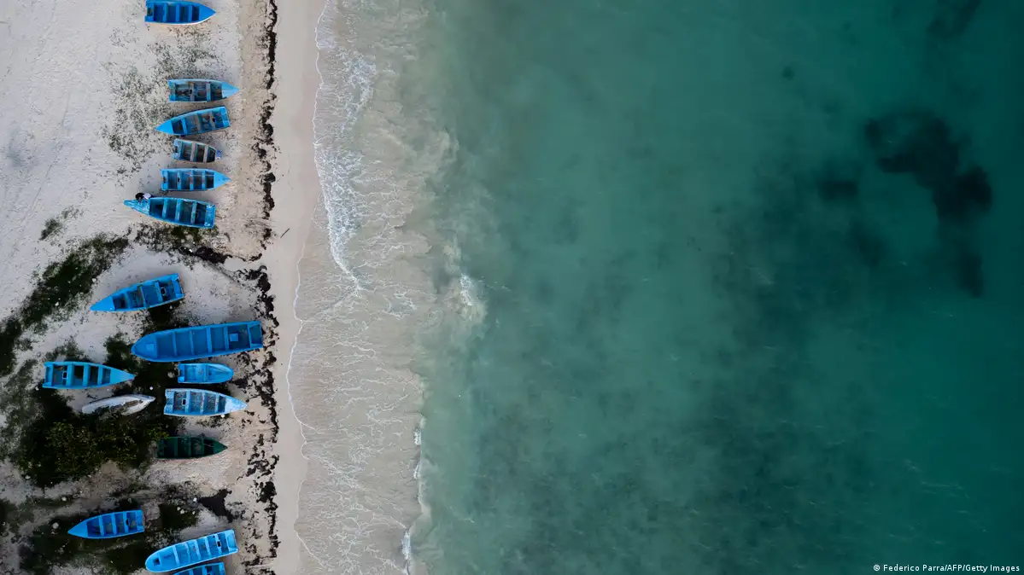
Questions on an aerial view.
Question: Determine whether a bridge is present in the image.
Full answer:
No, there isn't any bridge down there.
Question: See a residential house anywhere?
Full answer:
No, the picture doesn't show any residential house.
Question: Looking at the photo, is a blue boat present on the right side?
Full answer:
No, I see no blue boat on the right side.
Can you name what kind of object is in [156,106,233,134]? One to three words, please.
boat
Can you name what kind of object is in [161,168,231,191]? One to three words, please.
boat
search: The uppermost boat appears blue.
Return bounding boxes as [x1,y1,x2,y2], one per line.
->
[145,0,216,25]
